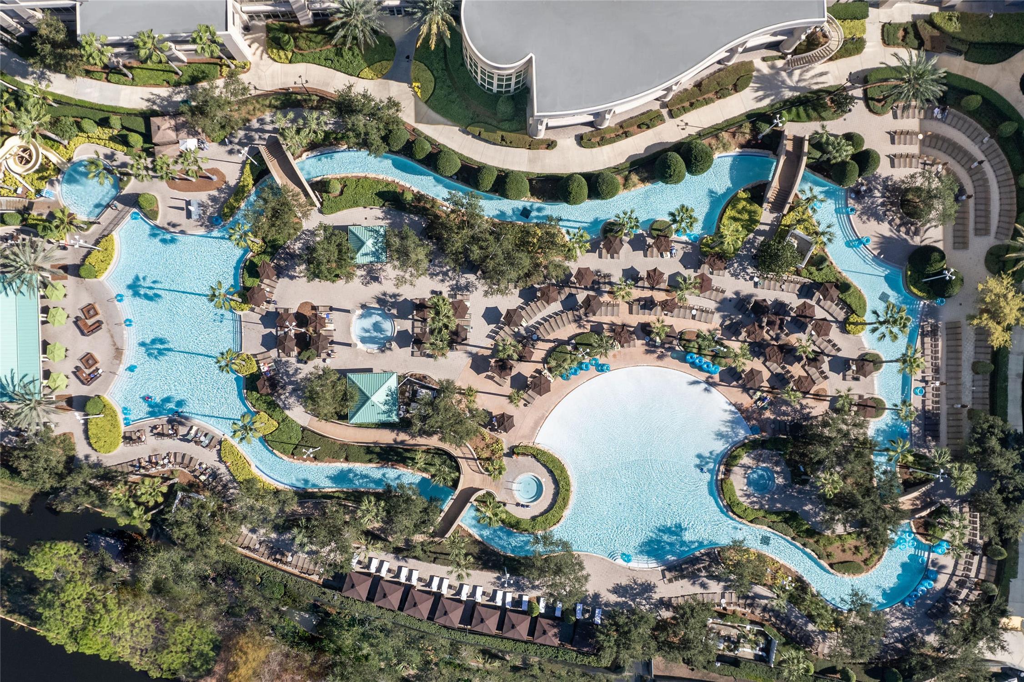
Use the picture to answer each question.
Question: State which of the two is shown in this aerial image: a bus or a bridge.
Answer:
bridge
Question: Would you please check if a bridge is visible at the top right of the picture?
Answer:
Yes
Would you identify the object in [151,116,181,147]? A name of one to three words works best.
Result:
tent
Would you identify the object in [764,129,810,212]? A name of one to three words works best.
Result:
bridge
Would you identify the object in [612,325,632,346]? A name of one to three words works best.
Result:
umbrella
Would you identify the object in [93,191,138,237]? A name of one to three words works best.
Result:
bridge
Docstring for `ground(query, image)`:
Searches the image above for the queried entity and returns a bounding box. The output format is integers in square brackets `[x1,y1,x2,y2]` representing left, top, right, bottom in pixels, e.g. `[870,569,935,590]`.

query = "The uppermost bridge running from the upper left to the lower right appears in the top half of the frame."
[258,133,321,216]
